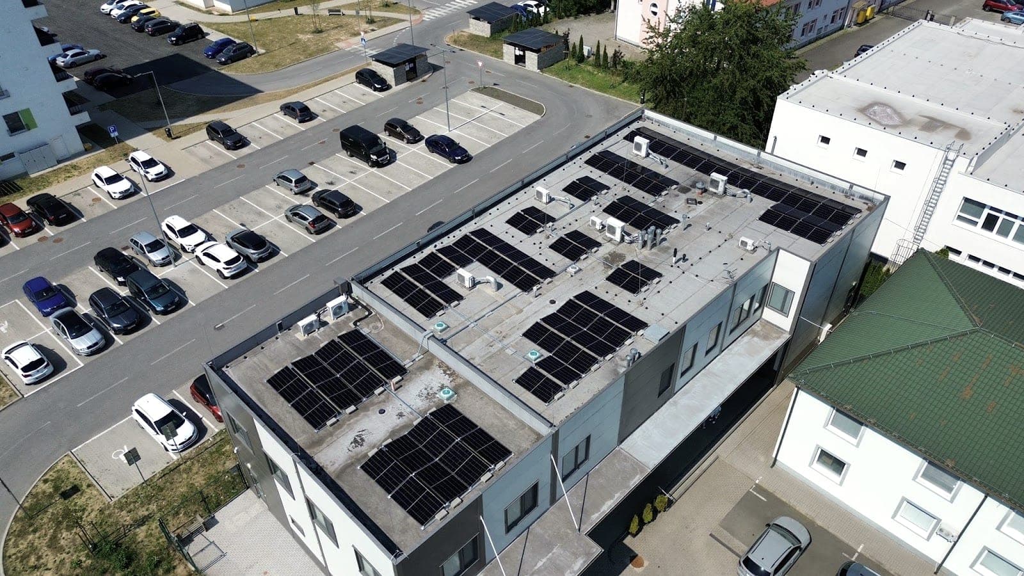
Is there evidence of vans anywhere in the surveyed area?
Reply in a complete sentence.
Yes, the frame does contain a van.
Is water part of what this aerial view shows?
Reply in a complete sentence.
No, there is no water in the image.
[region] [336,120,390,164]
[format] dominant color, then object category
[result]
black van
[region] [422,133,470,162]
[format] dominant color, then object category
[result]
black car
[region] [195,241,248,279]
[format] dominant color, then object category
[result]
white car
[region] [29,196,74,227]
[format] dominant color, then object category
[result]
black car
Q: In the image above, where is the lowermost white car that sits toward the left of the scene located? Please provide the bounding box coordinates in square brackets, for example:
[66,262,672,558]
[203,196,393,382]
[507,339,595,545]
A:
[129,389,201,454]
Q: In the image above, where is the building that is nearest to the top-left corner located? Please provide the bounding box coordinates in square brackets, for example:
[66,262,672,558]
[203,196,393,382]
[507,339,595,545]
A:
[0,0,108,185]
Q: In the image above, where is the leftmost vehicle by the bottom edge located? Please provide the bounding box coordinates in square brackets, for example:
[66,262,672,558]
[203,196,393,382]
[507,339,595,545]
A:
[728,508,814,576]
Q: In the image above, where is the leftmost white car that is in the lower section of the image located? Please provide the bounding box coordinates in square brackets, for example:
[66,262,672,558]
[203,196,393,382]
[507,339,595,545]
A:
[0,338,58,389]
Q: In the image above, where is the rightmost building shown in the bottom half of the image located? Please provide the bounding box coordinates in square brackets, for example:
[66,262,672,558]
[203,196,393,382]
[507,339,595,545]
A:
[772,246,1024,576]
